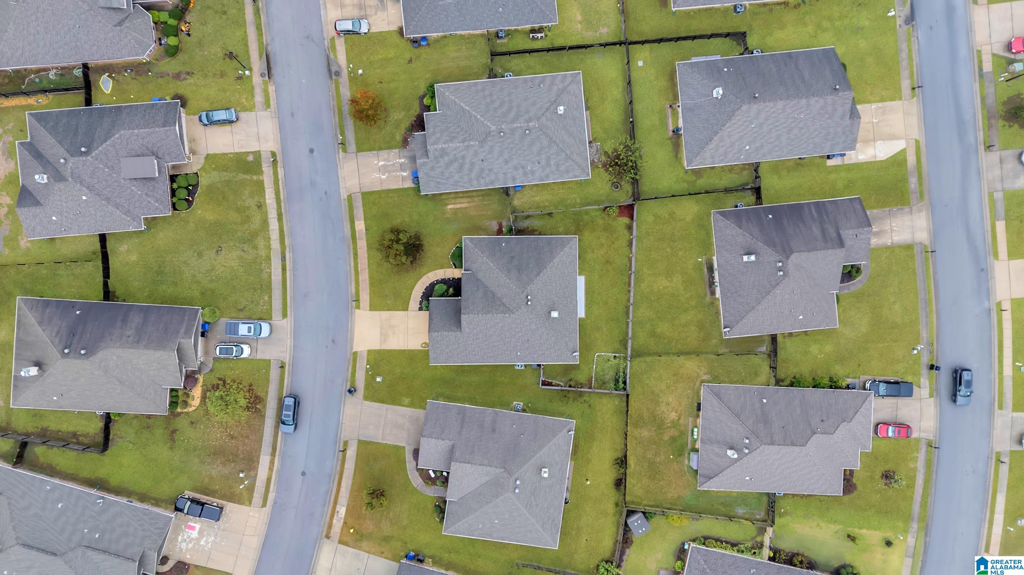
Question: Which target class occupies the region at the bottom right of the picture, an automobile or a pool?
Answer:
automobile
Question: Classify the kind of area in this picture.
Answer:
residential area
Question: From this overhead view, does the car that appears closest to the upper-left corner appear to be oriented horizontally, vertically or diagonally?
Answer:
horizontally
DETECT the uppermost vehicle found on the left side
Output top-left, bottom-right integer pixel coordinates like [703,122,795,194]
[334,16,370,36]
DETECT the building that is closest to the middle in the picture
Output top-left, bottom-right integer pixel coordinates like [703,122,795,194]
[428,235,579,366]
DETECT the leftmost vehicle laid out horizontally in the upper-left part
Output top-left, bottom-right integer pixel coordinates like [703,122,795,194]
[199,107,240,127]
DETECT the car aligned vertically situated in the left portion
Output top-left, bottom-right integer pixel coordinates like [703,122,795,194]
[280,394,301,434]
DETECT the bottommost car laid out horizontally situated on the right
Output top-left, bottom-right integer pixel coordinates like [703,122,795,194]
[874,422,914,441]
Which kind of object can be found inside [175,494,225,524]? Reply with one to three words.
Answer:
truck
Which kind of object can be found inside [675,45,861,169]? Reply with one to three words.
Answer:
house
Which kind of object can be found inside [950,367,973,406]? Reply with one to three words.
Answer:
car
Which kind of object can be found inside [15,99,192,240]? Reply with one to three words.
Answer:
house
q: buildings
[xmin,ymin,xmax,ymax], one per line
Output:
[709,195,872,339]
[675,45,861,169]
[0,460,179,575]
[10,296,206,415]
[696,383,875,496]
[401,0,559,40]
[669,0,803,14]
[625,512,650,537]
[15,99,192,240]
[0,0,161,73]
[680,540,837,575]
[417,400,576,550]
[414,70,592,195]
[428,235,579,366]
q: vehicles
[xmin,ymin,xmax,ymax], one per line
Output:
[1007,36,1024,54]
[334,16,370,36]
[175,494,225,524]
[214,342,252,360]
[874,422,914,441]
[864,379,914,399]
[280,394,301,434]
[199,107,240,127]
[224,320,272,339]
[950,367,973,406]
